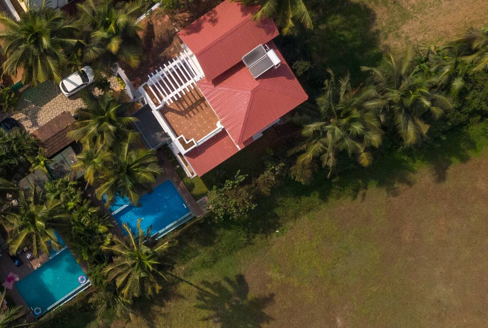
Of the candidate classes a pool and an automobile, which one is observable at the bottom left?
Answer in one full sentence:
What appears at the bottom left is a pool.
